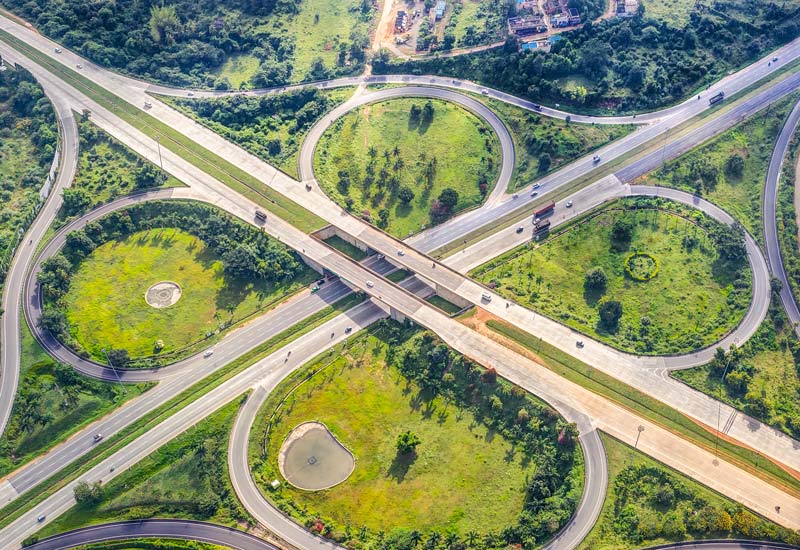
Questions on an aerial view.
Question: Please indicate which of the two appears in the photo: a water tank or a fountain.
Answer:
fountain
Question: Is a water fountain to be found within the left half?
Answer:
Yes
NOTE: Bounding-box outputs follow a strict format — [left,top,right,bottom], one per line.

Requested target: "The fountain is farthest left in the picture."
[143,277,182,308]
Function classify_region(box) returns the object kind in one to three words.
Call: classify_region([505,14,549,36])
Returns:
house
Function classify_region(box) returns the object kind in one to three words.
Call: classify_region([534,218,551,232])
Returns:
vehicle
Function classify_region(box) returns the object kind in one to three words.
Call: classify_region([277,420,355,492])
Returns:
pond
